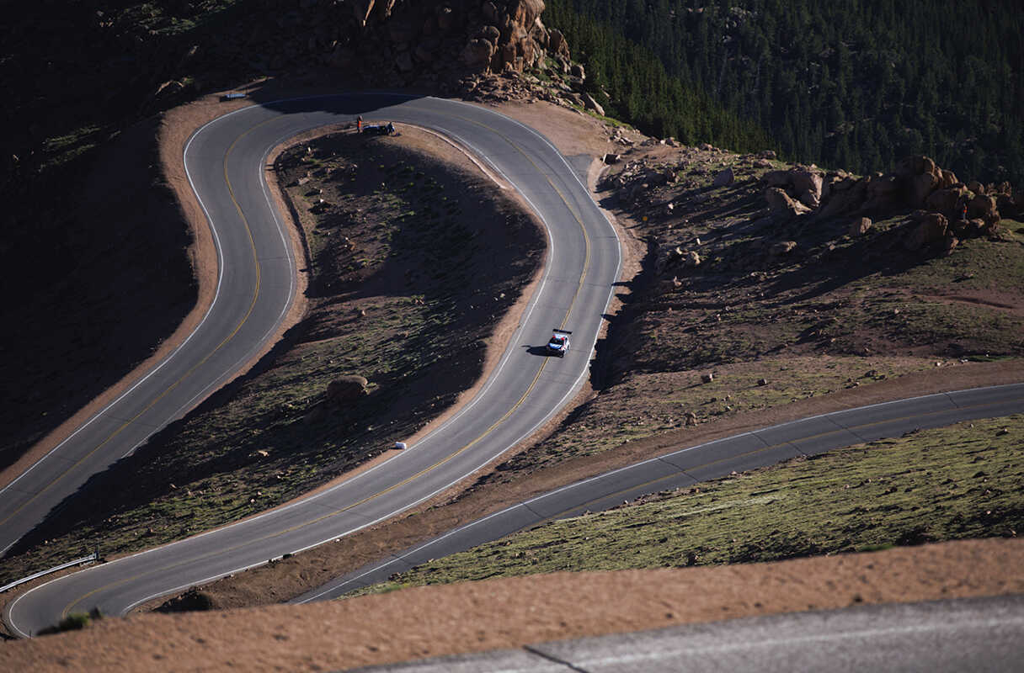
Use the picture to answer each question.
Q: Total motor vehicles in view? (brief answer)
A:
1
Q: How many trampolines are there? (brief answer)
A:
none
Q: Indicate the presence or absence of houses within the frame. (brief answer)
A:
No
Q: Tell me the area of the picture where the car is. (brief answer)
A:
center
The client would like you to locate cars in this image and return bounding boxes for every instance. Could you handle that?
[544,325,575,361]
